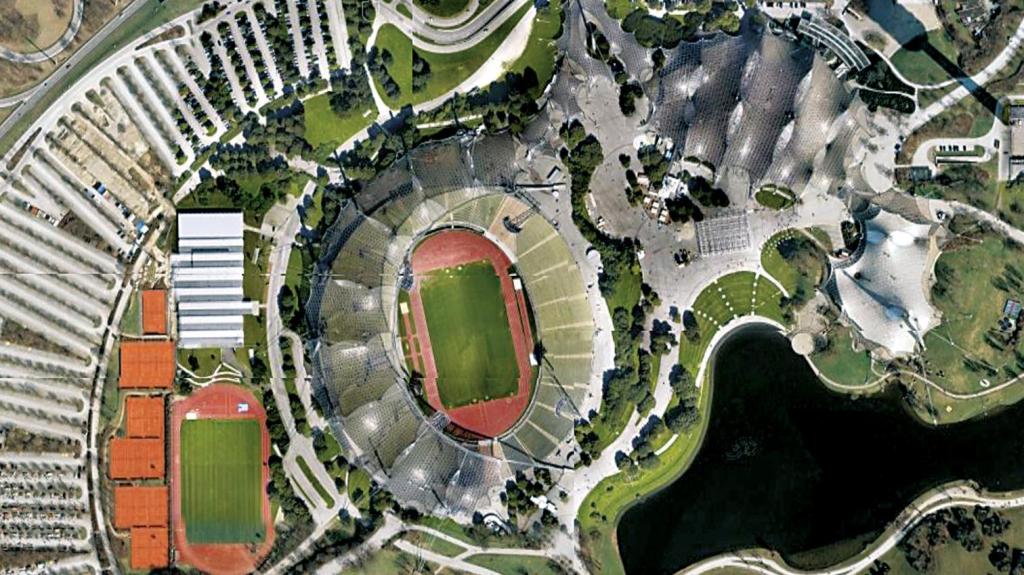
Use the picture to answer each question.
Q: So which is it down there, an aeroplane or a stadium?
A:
stadium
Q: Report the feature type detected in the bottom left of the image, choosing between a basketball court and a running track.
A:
running track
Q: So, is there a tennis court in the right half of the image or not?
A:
No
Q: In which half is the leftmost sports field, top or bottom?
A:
bottom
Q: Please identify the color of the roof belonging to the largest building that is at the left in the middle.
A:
white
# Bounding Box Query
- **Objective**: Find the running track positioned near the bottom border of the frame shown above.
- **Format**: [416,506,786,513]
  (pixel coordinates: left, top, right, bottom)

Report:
[172,383,273,575]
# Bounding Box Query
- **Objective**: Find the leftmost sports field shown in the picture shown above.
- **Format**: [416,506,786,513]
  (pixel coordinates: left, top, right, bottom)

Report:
[182,419,265,543]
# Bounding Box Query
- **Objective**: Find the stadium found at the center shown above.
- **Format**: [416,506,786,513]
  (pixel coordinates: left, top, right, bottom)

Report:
[305,131,595,516]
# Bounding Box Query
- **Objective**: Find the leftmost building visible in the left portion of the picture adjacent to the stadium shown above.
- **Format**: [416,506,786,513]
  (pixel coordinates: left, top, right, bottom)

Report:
[170,212,259,348]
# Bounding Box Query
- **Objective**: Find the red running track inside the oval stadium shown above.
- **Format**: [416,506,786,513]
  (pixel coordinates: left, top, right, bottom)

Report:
[403,230,534,436]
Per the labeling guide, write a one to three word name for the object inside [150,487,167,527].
tennis court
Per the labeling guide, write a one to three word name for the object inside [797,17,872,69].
building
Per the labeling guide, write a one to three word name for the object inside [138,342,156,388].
tennis court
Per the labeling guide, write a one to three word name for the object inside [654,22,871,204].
building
